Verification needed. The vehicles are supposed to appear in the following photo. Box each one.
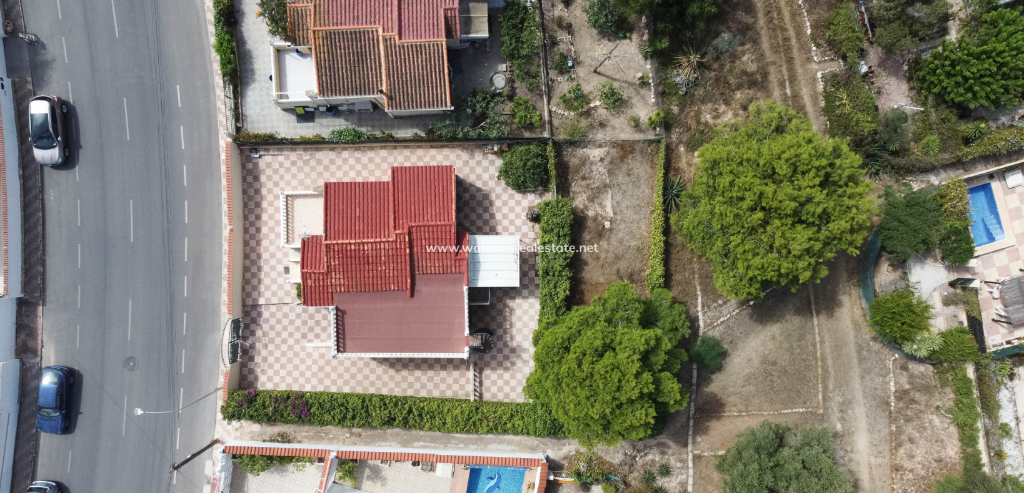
[28,95,69,168]
[26,477,62,493]
[31,366,71,433]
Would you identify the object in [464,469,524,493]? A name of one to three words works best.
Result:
swimming pool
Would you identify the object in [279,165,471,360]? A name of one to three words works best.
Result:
house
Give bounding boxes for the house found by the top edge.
[270,0,462,112]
